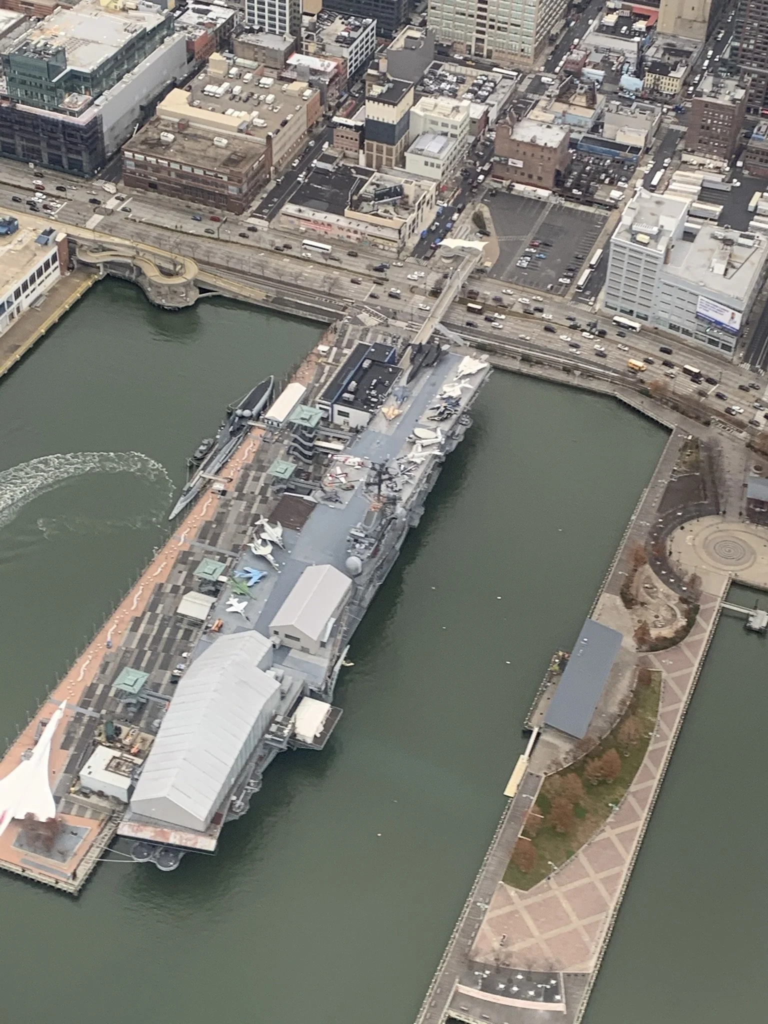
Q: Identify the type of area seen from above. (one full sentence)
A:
This looks like a port.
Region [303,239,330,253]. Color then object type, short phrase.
white vehicle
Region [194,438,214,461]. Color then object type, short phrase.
gray boat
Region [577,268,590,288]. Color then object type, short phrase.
white vehicle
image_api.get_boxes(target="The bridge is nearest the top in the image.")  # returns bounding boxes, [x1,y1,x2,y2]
[0,210,197,290]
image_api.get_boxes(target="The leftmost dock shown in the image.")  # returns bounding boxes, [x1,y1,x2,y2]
[0,269,98,381]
